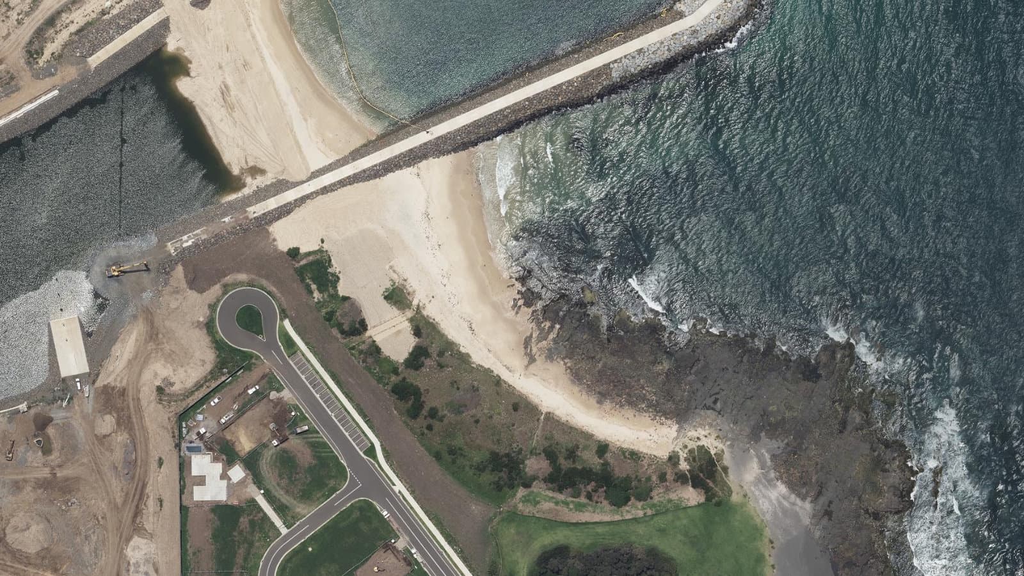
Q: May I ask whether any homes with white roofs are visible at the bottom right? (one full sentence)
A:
No, there is no home with a white roof at the bottom right.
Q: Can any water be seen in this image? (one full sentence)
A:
Yes, some water is visible.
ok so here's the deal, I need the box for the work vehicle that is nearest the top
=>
[108,259,146,275]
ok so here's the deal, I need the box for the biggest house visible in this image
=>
[190,455,226,501]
